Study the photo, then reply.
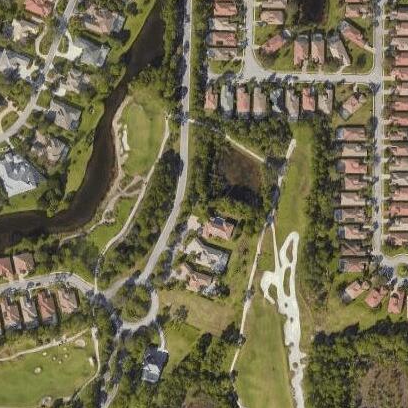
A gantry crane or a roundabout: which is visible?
roundabout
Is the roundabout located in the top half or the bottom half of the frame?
bottom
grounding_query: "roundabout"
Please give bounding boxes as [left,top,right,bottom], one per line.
[104,277,159,329]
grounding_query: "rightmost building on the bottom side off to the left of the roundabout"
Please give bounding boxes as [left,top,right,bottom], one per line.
[60,287,80,313]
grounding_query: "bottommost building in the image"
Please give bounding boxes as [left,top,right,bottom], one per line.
[143,340,168,383]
